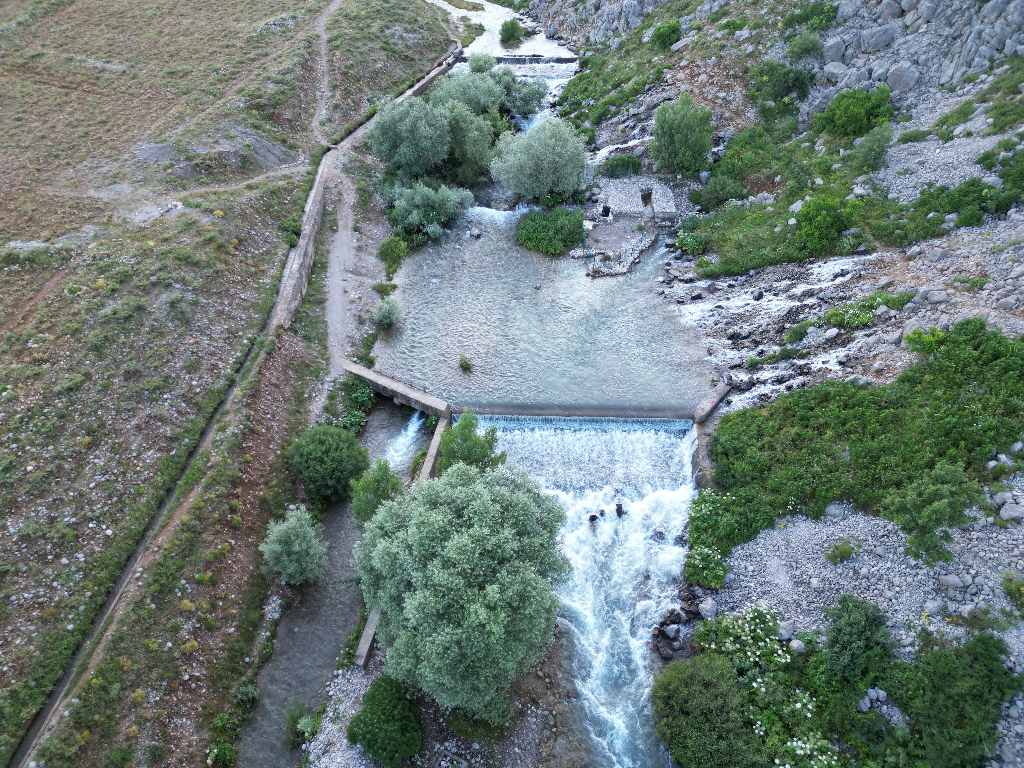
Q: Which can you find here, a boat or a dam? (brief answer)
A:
dam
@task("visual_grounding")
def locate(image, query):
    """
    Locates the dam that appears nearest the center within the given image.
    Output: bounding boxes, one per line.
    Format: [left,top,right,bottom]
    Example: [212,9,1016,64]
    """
[455,412,546,431]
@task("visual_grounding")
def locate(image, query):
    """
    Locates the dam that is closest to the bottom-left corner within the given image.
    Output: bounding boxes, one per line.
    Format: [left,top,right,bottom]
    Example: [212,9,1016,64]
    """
[341,360,456,432]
